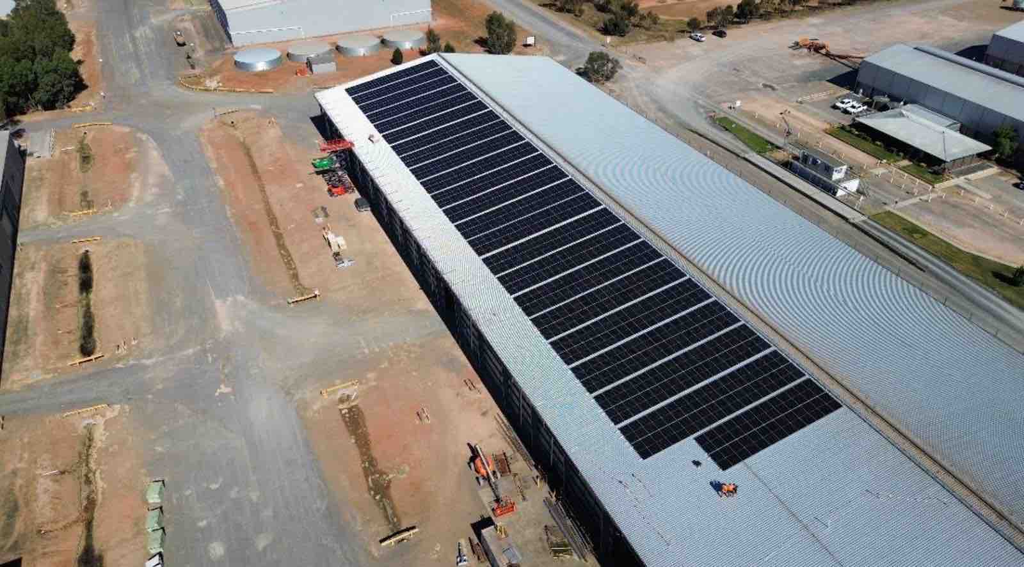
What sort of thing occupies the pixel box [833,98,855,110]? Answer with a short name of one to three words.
vehicle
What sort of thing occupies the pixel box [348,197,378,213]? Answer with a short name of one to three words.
car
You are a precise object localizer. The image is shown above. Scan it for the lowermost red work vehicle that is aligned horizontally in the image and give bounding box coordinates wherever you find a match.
[327,183,362,199]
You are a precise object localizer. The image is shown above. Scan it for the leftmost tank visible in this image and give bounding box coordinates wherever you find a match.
[232,47,284,70]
